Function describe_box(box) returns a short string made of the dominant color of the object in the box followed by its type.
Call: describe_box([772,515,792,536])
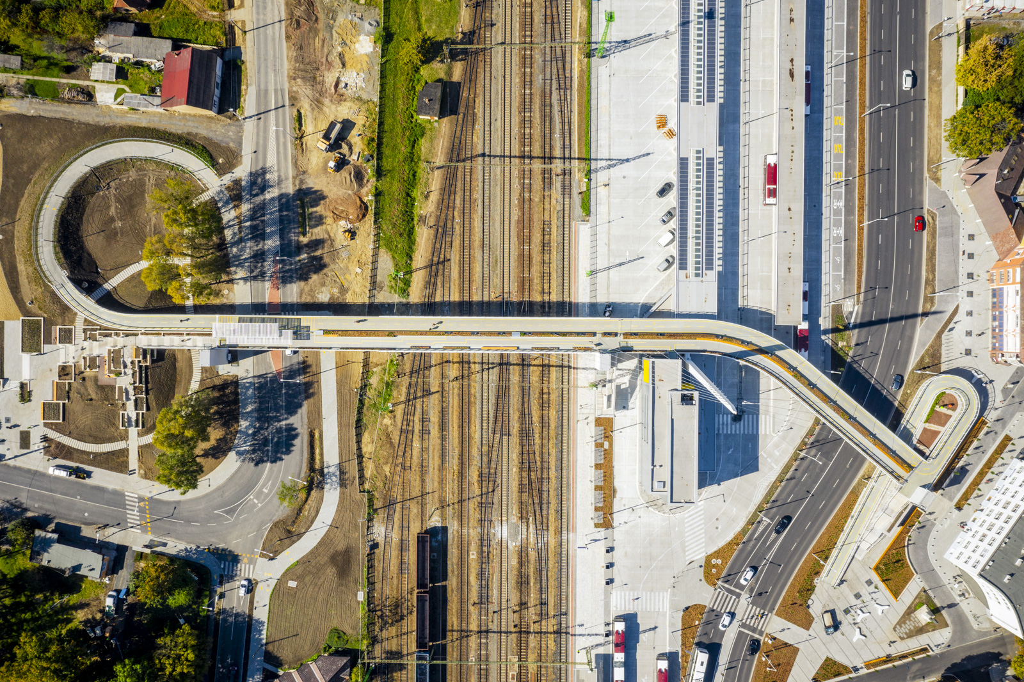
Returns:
black car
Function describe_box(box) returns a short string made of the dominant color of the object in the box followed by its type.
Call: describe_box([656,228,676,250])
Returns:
white car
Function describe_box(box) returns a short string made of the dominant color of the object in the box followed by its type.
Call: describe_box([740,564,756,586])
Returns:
white car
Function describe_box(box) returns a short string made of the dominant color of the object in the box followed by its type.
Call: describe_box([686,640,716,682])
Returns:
white bus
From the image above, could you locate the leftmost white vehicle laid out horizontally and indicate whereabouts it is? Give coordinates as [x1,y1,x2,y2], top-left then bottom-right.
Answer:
[48,466,72,478]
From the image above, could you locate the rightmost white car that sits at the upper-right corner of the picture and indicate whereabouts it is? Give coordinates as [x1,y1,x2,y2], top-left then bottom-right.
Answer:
[901,69,914,91]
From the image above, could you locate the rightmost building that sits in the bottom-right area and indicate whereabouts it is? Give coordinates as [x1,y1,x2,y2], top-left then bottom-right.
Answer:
[941,445,1024,639]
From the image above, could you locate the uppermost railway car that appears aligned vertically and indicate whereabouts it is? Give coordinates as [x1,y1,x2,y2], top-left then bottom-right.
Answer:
[416,531,430,589]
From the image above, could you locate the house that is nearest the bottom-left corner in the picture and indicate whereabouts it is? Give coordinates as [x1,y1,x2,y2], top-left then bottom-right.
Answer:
[29,526,119,580]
